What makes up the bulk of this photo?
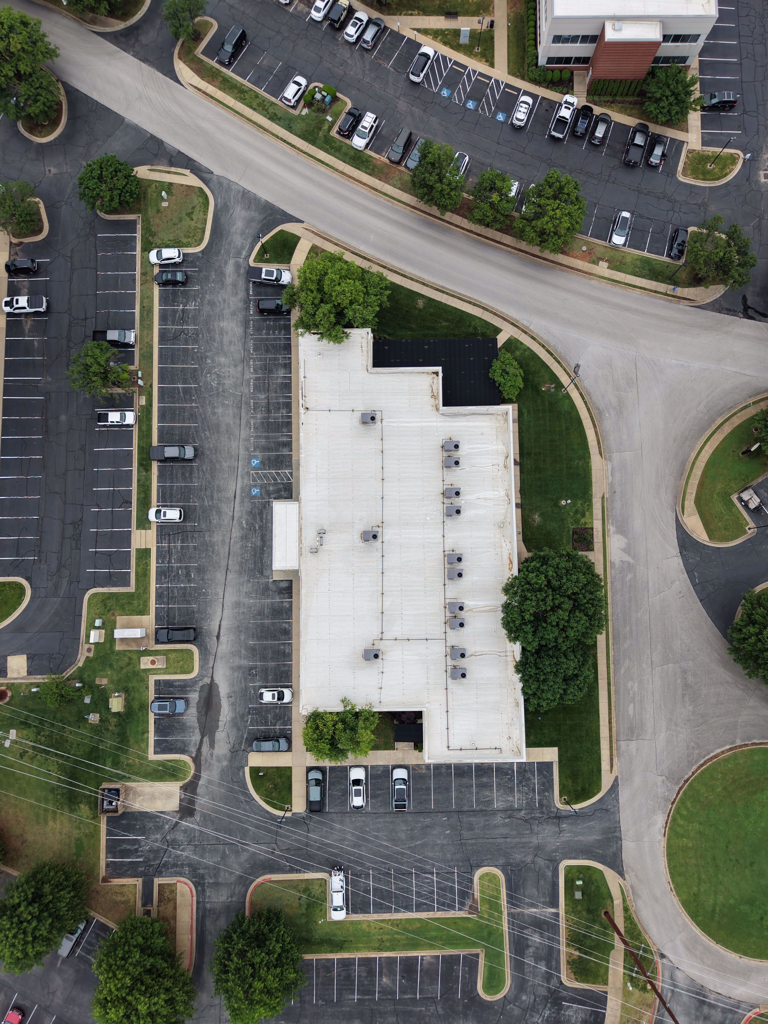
paved ground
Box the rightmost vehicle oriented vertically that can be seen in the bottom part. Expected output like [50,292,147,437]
[391,766,410,813]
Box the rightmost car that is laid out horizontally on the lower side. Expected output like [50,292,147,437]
[252,736,290,753]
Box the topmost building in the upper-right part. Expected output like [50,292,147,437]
[535,0,719,89]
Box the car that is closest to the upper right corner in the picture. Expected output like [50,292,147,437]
[702,93,738,112]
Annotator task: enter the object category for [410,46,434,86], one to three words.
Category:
car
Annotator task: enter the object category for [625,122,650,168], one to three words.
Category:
truck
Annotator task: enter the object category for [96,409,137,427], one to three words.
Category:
vehicle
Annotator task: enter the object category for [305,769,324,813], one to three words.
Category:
vehicle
